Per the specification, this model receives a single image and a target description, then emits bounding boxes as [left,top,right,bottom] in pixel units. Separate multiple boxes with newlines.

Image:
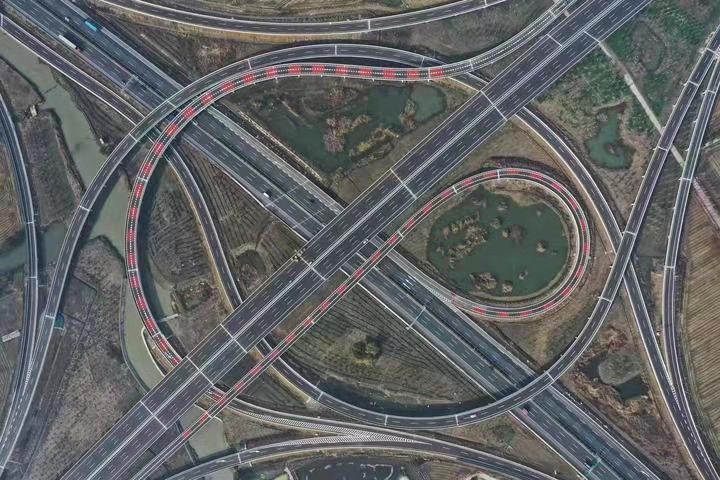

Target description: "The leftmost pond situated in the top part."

[252,85,446,173]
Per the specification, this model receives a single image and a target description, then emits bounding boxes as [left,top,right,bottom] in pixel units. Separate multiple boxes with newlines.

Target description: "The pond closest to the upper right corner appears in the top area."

[587,105,632,169]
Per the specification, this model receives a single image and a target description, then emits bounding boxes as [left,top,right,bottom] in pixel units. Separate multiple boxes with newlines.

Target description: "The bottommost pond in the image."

[288,455,409,480]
